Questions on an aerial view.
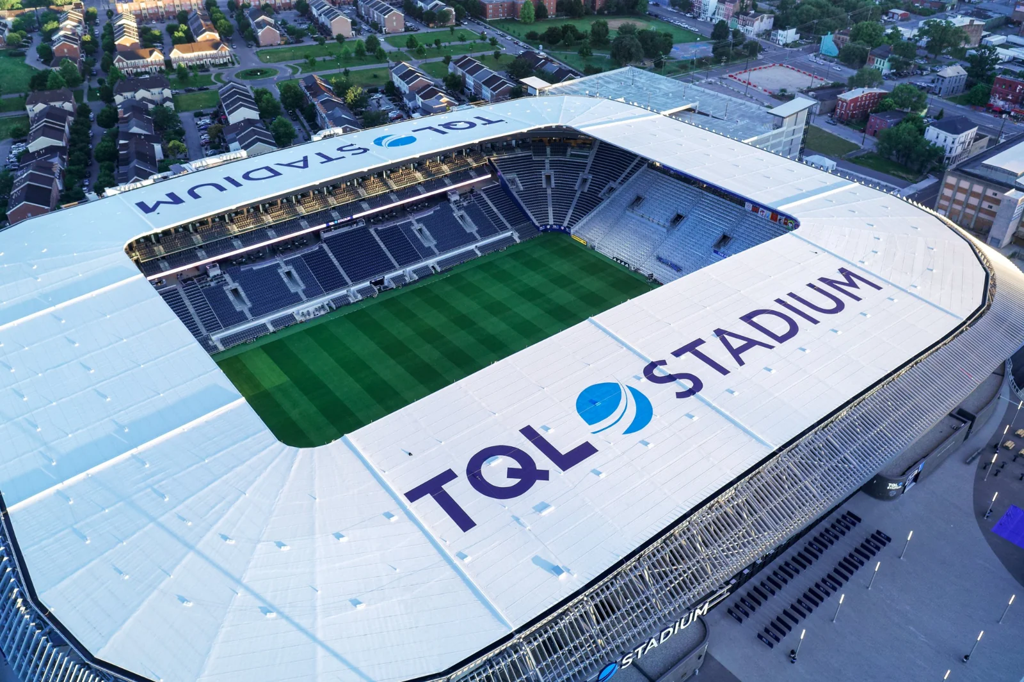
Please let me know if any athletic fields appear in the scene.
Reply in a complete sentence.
Yes, the picture does show an athletic field.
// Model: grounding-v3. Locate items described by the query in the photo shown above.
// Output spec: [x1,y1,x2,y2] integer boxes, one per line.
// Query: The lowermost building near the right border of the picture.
[846,409,975,509]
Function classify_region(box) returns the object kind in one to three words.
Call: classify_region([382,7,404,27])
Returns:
house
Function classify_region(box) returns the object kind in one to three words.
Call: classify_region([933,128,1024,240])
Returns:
building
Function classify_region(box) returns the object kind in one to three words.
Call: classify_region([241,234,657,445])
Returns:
sports field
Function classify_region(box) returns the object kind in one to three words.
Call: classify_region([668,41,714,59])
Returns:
sports court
